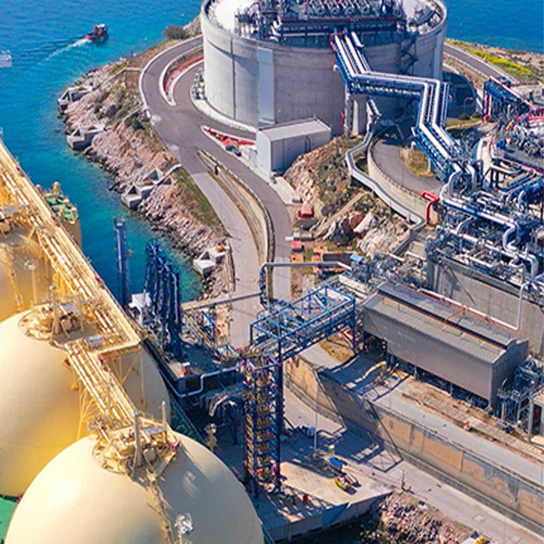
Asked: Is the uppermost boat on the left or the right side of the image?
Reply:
left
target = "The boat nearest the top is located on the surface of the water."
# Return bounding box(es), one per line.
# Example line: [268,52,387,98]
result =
[83,22,107,41]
